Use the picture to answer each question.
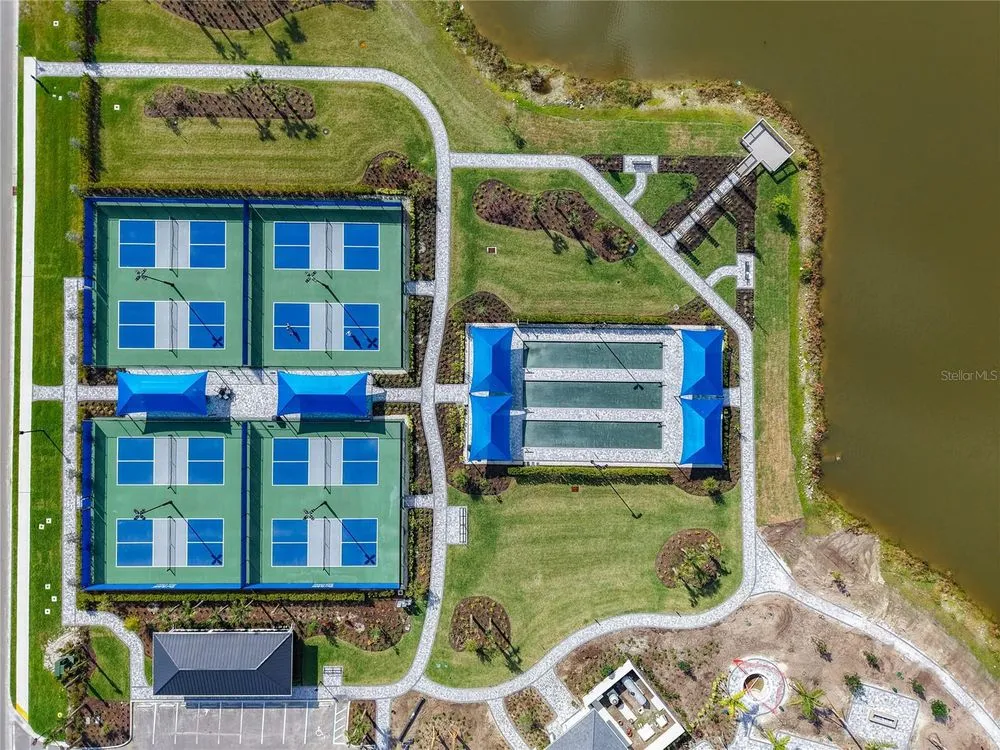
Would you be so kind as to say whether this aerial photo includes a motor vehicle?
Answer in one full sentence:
No, I can't see a single motor vehicle in this photo.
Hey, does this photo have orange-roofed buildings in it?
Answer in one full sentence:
No, no orange-roofed building is visible in the view.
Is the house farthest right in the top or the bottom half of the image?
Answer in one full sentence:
Seen from above, the house farthest right lies in the bottom half of the view.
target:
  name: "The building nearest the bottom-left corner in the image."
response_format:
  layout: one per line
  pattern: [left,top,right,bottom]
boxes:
[152,628,297,696]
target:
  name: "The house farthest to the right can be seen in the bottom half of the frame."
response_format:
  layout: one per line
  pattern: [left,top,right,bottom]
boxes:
[541,705,631,750]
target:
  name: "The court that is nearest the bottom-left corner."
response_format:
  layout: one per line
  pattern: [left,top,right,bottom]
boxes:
[116,519,224,567]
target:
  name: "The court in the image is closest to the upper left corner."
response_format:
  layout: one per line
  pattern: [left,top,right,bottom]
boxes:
[118,219,226,269]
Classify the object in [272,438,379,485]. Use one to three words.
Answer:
sports court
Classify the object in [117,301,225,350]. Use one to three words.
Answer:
sports court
